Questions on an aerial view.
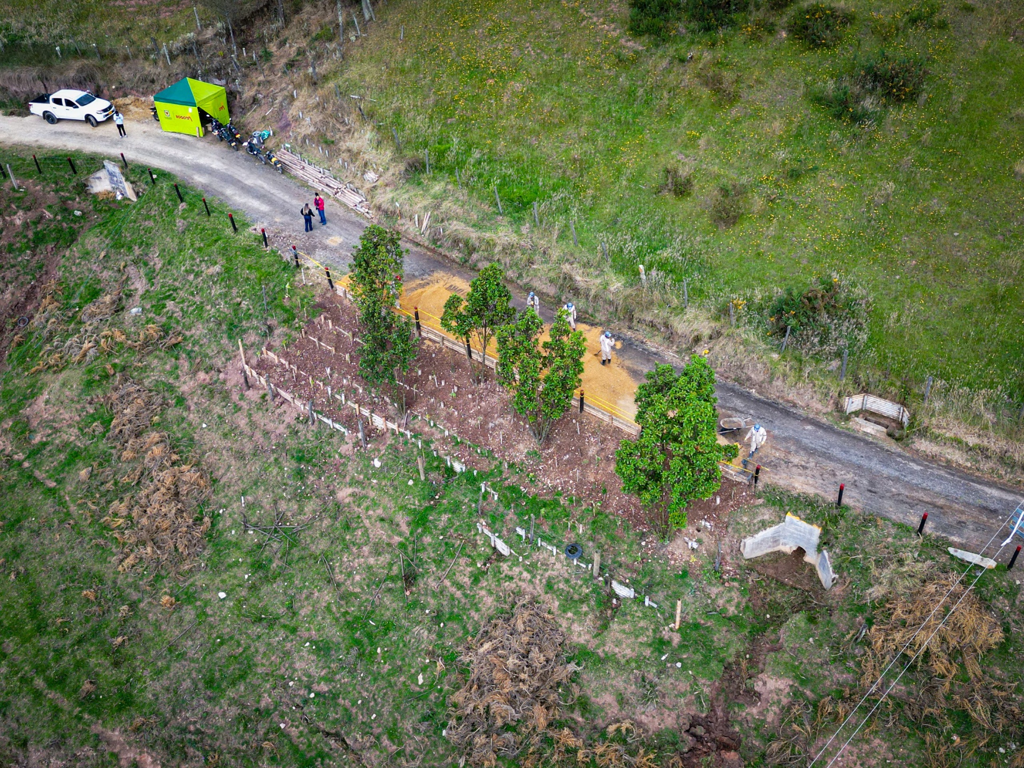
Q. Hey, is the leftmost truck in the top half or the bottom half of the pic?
top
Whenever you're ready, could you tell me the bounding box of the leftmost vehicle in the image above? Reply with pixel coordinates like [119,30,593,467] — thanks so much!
[27,85,122,127]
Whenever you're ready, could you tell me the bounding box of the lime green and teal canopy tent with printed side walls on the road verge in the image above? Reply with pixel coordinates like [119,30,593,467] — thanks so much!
[154,78,231,140]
